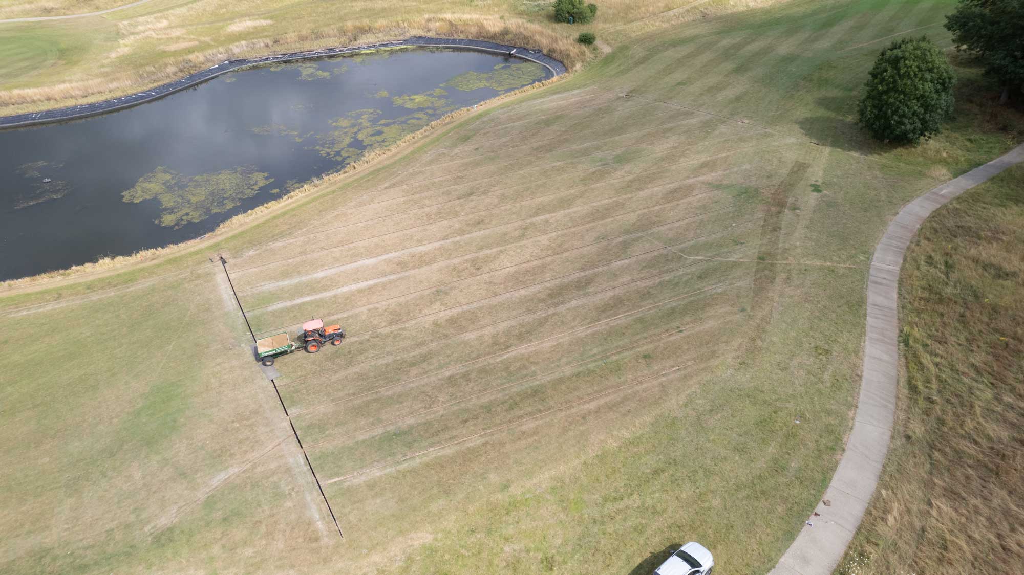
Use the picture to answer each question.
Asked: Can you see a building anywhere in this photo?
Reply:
No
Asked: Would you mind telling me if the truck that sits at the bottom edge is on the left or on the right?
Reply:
right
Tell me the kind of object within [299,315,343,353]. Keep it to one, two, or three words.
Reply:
work vehicle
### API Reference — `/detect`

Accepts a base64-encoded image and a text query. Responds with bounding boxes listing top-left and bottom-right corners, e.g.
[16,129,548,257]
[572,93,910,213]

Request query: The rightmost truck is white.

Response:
[651,539,712,575]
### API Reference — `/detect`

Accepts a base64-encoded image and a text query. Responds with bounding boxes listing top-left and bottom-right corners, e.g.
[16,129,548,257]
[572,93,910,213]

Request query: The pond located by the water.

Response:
[0,48,557,282]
